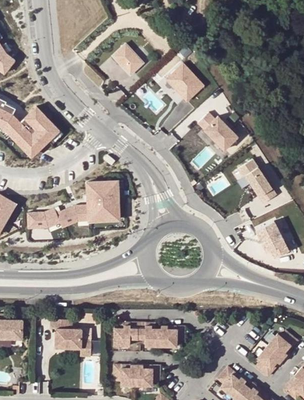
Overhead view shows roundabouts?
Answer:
Yes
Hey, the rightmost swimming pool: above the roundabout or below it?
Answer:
above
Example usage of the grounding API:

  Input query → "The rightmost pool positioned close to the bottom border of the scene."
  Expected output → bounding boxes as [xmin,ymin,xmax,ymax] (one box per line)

[80,358,100,390]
